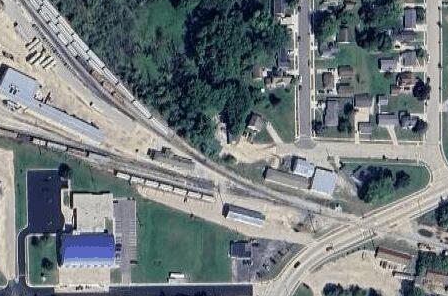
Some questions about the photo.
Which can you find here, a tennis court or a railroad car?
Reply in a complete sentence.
It is a railroad car that can be seen here.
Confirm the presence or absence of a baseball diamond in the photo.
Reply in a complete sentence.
No, I find no baseball diamond anywhere in the image.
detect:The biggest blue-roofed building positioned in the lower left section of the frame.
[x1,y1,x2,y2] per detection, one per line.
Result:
[61,232,116,268]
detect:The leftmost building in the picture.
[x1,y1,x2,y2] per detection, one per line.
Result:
[0,67,37,104]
